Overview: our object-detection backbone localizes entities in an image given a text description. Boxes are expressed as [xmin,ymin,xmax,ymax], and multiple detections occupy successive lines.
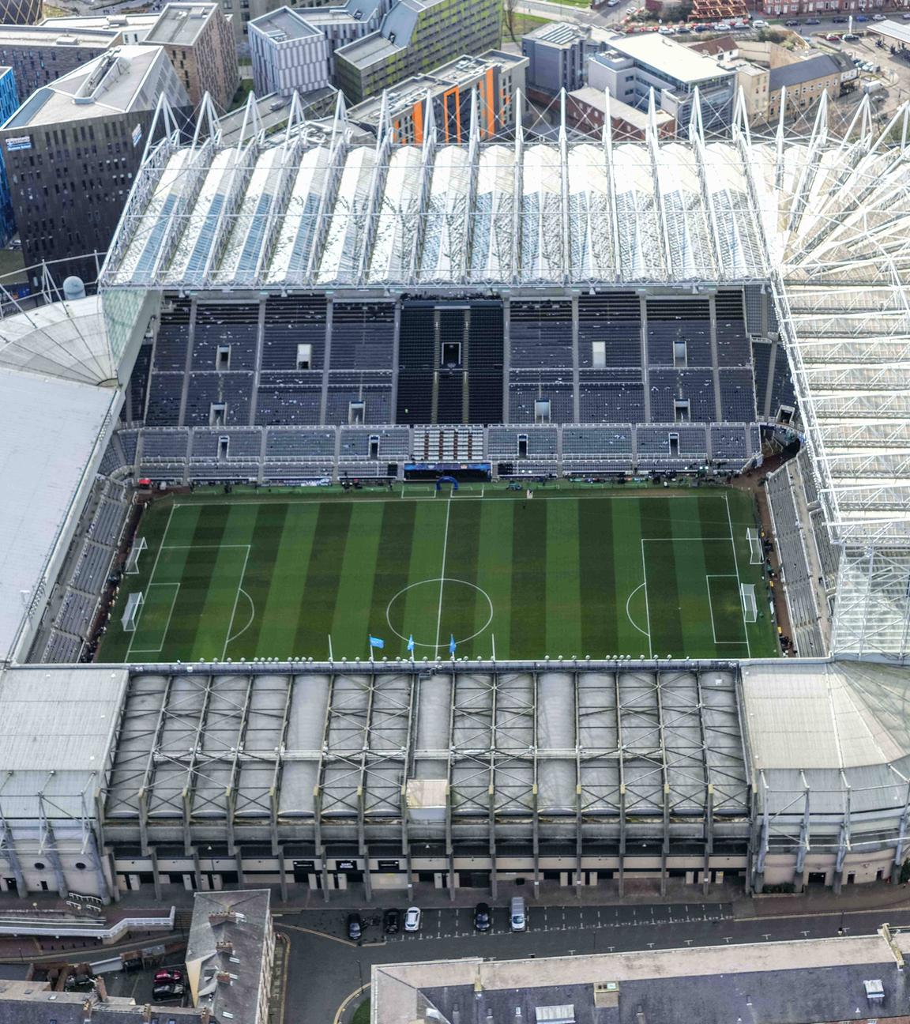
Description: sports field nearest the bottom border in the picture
[102,494,751,772]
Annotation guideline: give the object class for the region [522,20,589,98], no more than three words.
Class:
building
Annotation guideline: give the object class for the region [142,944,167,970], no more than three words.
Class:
shed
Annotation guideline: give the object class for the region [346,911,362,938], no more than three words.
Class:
car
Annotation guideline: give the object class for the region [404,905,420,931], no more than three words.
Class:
car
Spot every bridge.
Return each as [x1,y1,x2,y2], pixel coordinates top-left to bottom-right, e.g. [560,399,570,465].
[0,906,177,953]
